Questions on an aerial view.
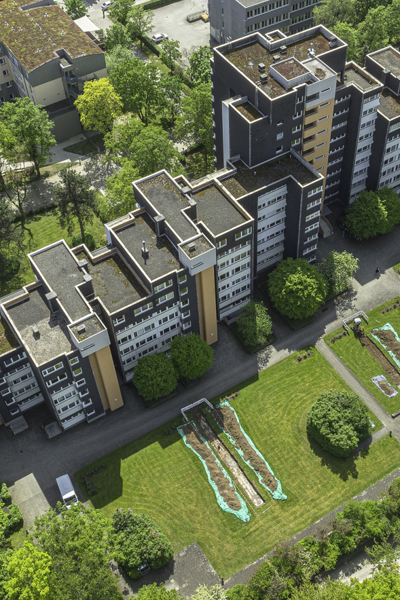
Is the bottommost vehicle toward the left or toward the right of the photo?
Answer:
left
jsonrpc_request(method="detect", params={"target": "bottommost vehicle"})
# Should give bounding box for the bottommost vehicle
[52,468,75,506]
